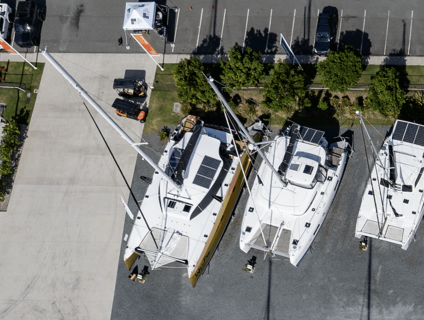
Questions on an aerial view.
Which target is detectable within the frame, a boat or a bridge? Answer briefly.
boat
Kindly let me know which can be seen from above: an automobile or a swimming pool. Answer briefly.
automobile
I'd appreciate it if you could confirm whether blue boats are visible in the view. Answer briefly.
No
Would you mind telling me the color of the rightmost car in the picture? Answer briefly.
black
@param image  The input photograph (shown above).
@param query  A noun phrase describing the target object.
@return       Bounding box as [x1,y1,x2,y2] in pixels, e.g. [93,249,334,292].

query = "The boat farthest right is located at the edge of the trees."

[355,110,424,248]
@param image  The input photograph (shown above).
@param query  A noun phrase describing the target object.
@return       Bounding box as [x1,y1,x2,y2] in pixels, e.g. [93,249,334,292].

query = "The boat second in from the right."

[207,75,349,259]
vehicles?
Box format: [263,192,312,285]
[312,7,339,56]
[11,0,44,50]
[112,78,153,102]
[111,97,154,127]
[0,0,12,39]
